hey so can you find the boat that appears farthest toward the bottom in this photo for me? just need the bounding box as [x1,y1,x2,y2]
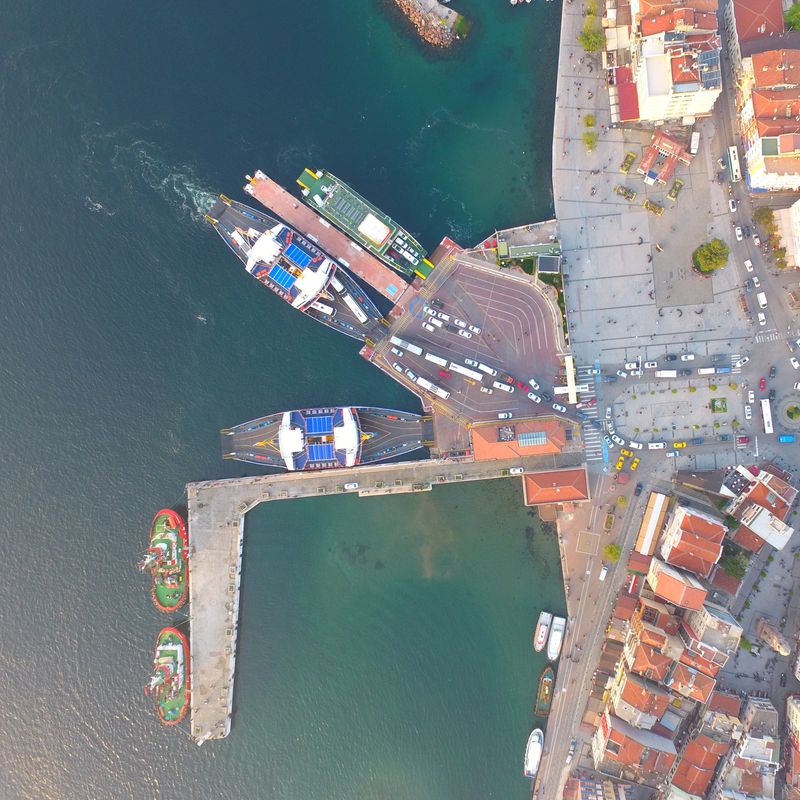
[523,727,545,777]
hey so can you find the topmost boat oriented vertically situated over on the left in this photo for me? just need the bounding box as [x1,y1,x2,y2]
[147,508,191,612]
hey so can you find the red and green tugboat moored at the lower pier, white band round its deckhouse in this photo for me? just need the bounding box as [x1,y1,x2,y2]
[149,626,193,727]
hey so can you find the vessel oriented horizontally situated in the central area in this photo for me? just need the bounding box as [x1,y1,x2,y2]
[220,407,435,471]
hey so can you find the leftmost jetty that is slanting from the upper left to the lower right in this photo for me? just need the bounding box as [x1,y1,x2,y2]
[245,168,409,303]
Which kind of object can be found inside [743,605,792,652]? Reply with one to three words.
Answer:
building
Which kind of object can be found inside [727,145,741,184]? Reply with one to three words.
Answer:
vehicle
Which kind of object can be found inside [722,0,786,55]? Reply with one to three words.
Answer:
house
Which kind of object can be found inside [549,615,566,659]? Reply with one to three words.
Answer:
boat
